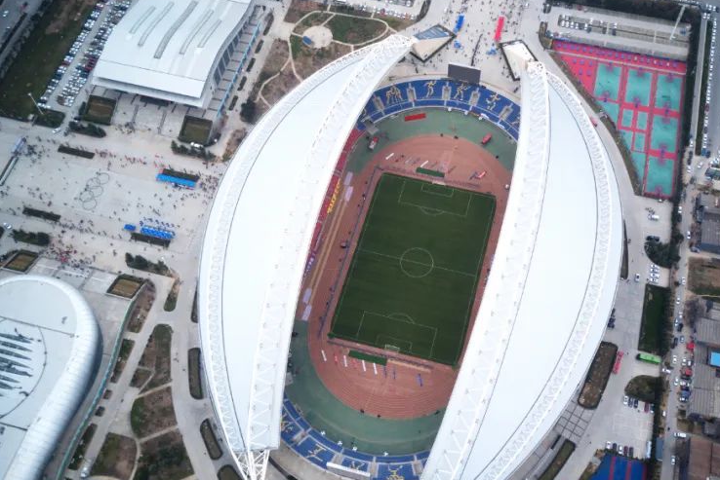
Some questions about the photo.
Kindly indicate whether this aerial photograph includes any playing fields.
Yes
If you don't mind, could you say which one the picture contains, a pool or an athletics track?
athletics track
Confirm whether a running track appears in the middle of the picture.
Yes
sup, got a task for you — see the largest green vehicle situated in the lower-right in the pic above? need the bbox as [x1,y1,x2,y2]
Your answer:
[638,350,661,366]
